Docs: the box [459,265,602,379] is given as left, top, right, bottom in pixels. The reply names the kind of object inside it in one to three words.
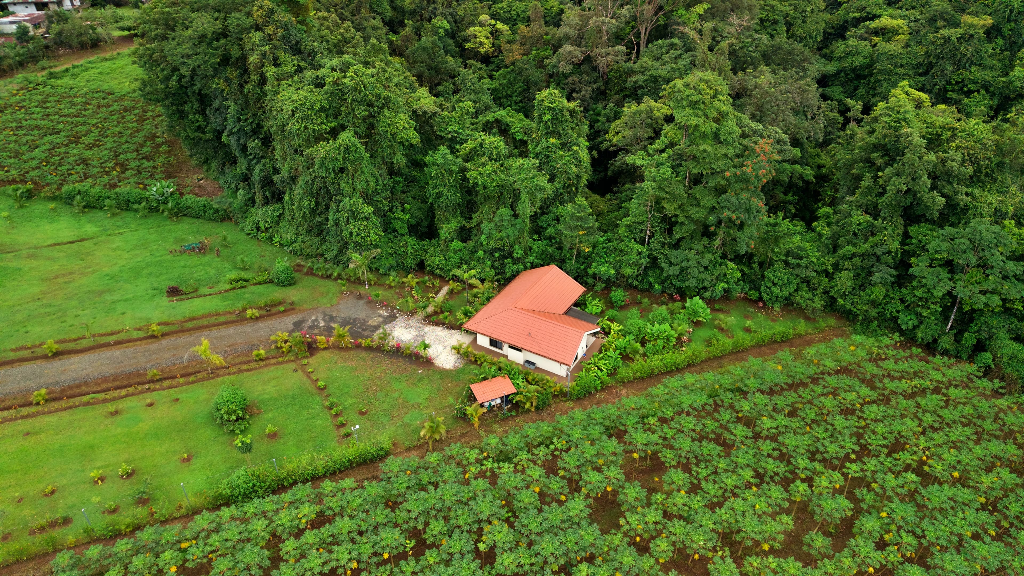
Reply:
house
